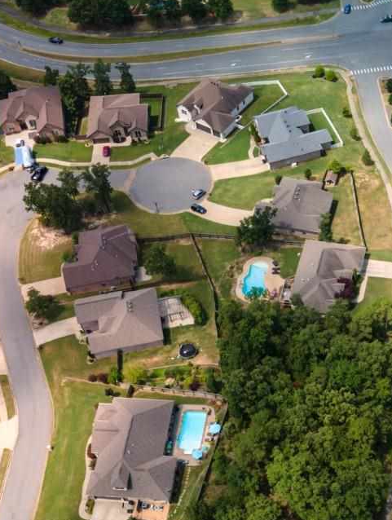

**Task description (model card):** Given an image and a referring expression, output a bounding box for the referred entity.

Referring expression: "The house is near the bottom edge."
[85,399,178,507]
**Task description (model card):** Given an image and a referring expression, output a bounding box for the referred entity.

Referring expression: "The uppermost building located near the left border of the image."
[0,89,68,141]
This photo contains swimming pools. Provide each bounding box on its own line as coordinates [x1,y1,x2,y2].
[174,405,215,465]
[235,256,285,303]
